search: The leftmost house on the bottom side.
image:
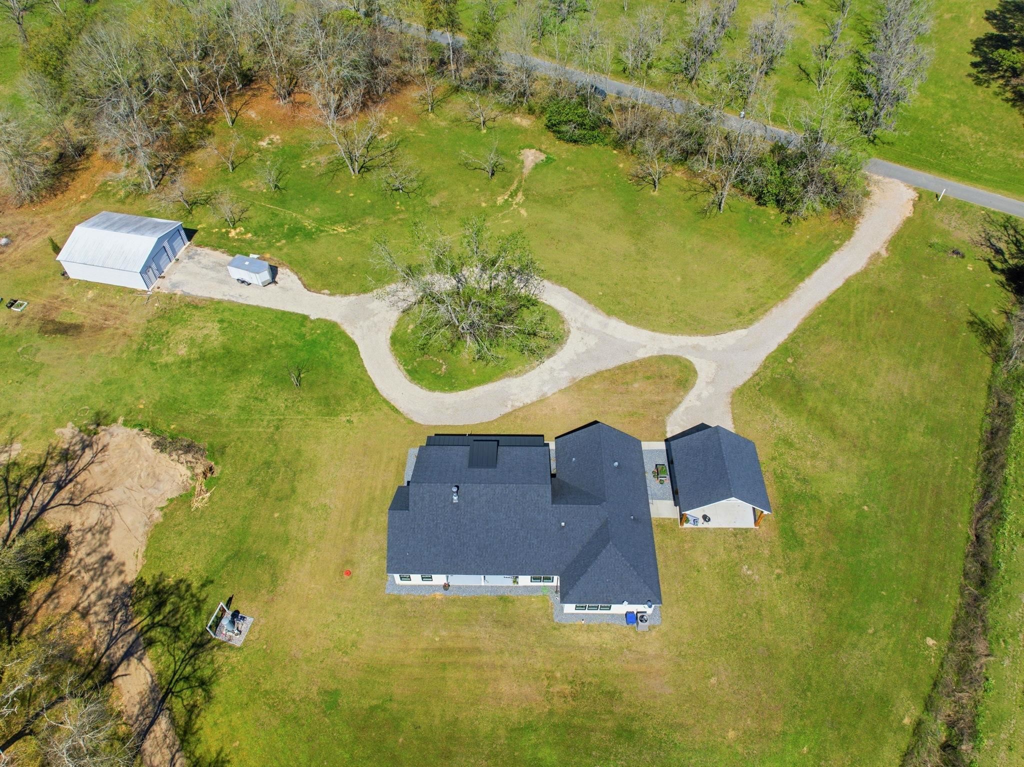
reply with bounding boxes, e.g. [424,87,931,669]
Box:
[387,424,662,614]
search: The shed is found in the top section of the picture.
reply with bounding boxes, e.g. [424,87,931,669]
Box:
[58,213,190,292]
